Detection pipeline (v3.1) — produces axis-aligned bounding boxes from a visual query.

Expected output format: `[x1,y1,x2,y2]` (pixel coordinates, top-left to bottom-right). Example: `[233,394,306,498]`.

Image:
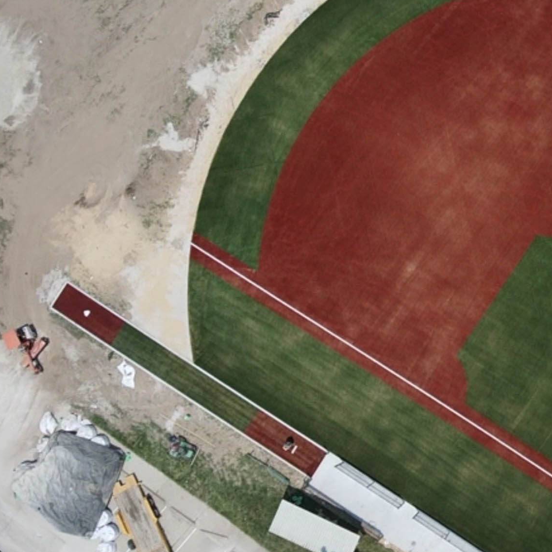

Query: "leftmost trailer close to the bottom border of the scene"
[108,473,169,552]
